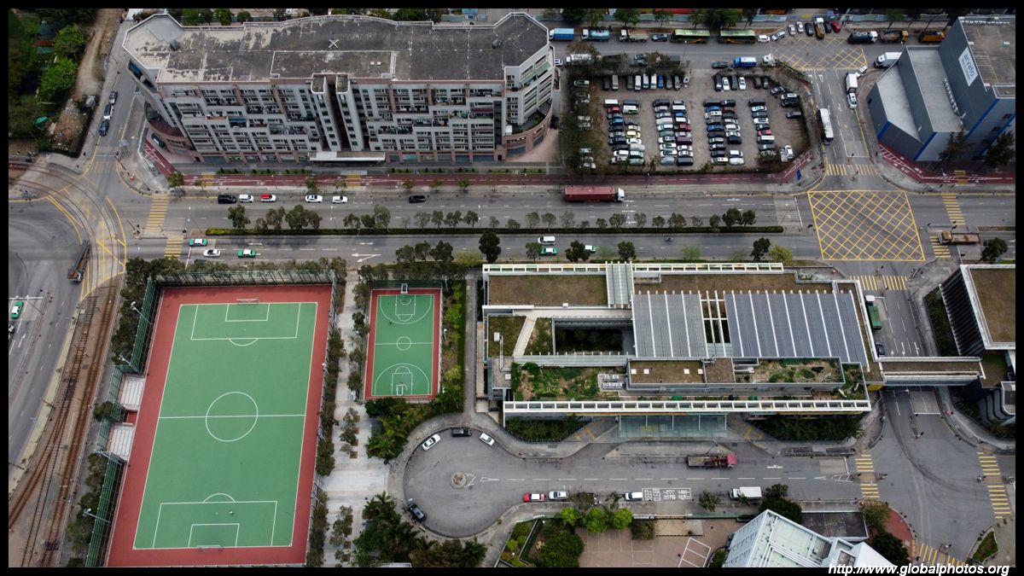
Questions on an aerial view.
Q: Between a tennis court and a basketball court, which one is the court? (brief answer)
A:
basketball court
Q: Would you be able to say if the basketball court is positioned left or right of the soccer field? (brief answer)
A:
on its right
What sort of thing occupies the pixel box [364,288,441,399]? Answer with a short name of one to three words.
basketball court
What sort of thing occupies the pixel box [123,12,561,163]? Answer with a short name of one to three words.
building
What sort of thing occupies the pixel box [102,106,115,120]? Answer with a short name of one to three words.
vehicle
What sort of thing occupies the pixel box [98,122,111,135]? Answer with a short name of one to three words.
vehicle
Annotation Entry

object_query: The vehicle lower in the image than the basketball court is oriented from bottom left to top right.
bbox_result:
[422,434,441,451]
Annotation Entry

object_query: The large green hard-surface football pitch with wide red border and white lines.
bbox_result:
[105,286,331,576]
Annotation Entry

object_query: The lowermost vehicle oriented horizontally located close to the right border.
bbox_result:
[938,233,981,245]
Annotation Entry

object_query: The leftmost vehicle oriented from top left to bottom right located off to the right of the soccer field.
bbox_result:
[408,501,425,521]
